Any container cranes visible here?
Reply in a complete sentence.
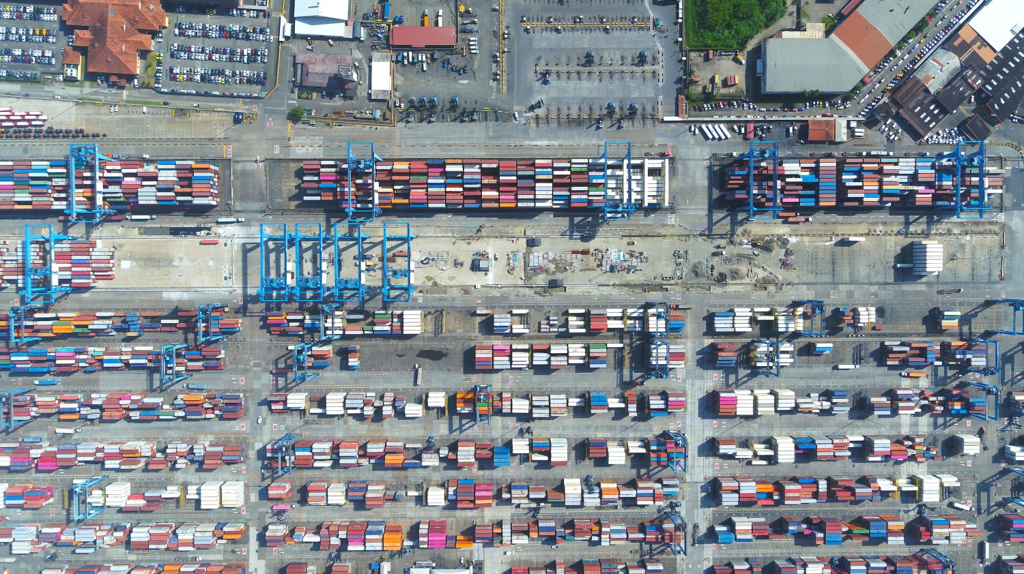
Yes, you can see a container crane in this photo.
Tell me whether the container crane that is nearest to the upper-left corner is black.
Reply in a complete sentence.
No, the container crane that is nearest to the upper-left corner is blue.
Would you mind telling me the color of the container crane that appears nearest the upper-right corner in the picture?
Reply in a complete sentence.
In this view, the container crane that appears nearest the upper-right corner is blue.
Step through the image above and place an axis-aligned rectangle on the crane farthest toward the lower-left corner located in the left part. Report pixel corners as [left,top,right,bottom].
[74,473,107,520]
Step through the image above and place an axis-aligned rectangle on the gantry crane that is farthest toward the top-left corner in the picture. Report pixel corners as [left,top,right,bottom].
[70,141,121,222]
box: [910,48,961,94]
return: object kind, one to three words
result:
building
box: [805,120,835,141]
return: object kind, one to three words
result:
house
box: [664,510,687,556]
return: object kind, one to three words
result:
crane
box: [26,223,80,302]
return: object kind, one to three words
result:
container crane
